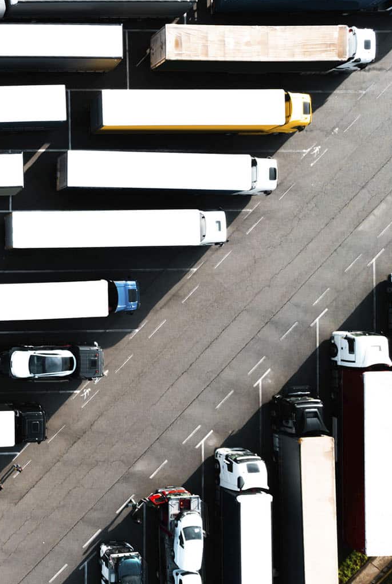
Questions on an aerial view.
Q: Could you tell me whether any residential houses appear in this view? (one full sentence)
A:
No, the photo shows no residential house.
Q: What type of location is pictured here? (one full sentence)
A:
The picture captures a parking lot.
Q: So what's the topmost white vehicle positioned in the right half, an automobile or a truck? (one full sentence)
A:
The topmost white vehicle positioned in the right half can be classified as a truck.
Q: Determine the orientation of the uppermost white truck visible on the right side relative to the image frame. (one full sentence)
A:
The uppermost white truck visible on the right side is oriented horizontally.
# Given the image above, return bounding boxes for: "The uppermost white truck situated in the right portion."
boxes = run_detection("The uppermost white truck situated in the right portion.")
[149,25,376,78]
